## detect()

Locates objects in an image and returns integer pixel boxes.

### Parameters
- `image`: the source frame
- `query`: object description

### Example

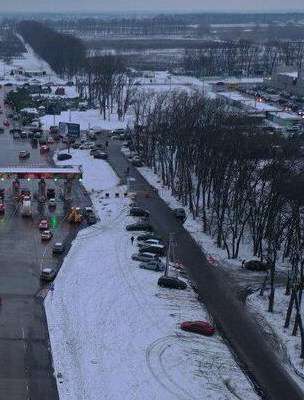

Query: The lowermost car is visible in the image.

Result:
[180,321,216,335]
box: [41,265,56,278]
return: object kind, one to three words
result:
vehicle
